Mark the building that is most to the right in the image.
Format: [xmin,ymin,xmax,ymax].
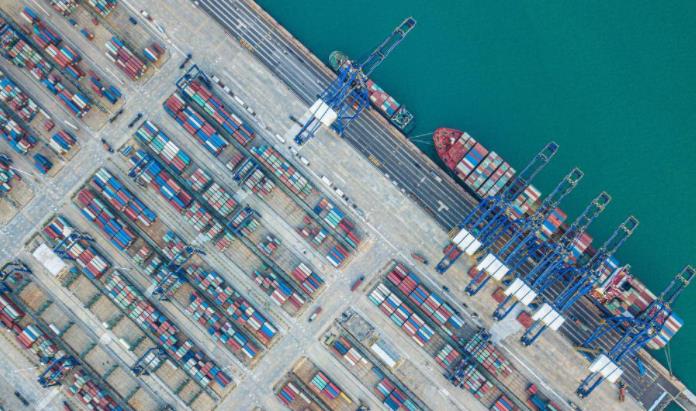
[368,335,404,370]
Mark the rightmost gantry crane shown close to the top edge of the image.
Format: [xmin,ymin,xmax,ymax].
[292,10,419,147]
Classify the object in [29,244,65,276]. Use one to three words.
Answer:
shed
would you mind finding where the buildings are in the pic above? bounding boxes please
[368,335,404,370]
[29,244,65,276]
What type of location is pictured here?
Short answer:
port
